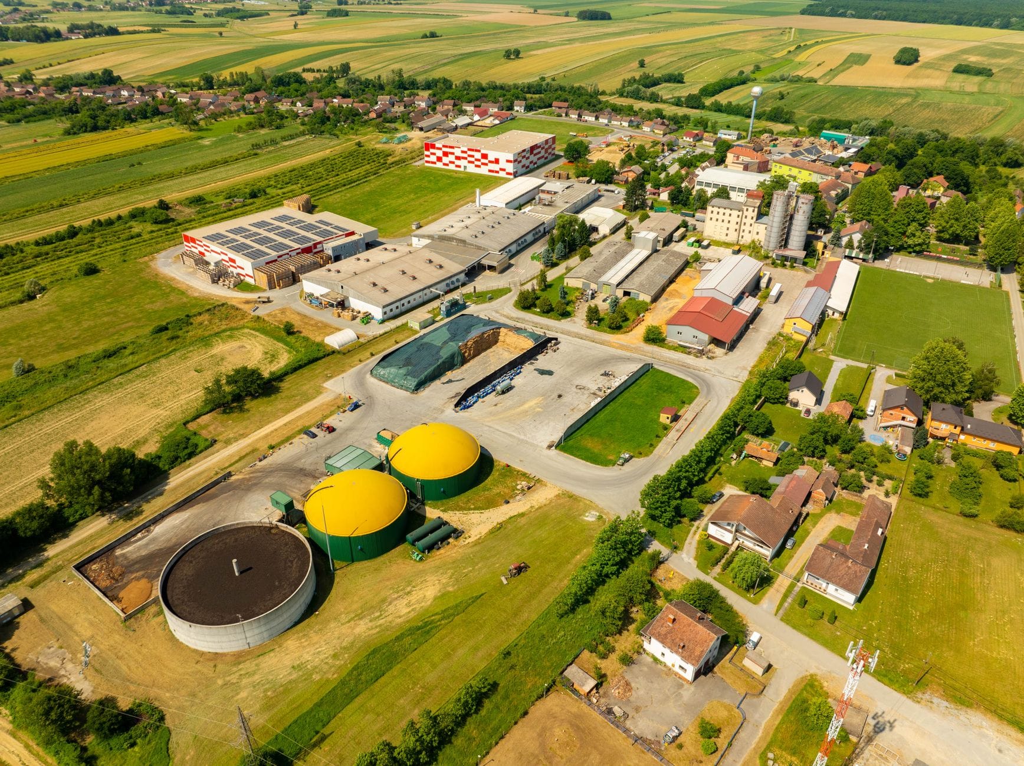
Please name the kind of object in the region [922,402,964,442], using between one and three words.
house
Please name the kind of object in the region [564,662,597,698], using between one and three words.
shed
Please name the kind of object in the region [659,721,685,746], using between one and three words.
car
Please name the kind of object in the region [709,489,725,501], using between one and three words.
vehicle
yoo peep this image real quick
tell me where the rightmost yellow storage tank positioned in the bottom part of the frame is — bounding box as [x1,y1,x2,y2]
[388,422,482,503]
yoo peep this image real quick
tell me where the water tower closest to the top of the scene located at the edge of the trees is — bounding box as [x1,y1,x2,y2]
[747,85,764,140]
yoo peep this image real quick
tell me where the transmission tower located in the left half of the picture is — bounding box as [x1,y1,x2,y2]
[222,707,260,766]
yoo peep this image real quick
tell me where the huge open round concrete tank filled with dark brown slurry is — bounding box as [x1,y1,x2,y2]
[158,515,317,653]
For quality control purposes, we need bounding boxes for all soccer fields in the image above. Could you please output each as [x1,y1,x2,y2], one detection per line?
[832,264,1024,396]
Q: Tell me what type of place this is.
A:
residential area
